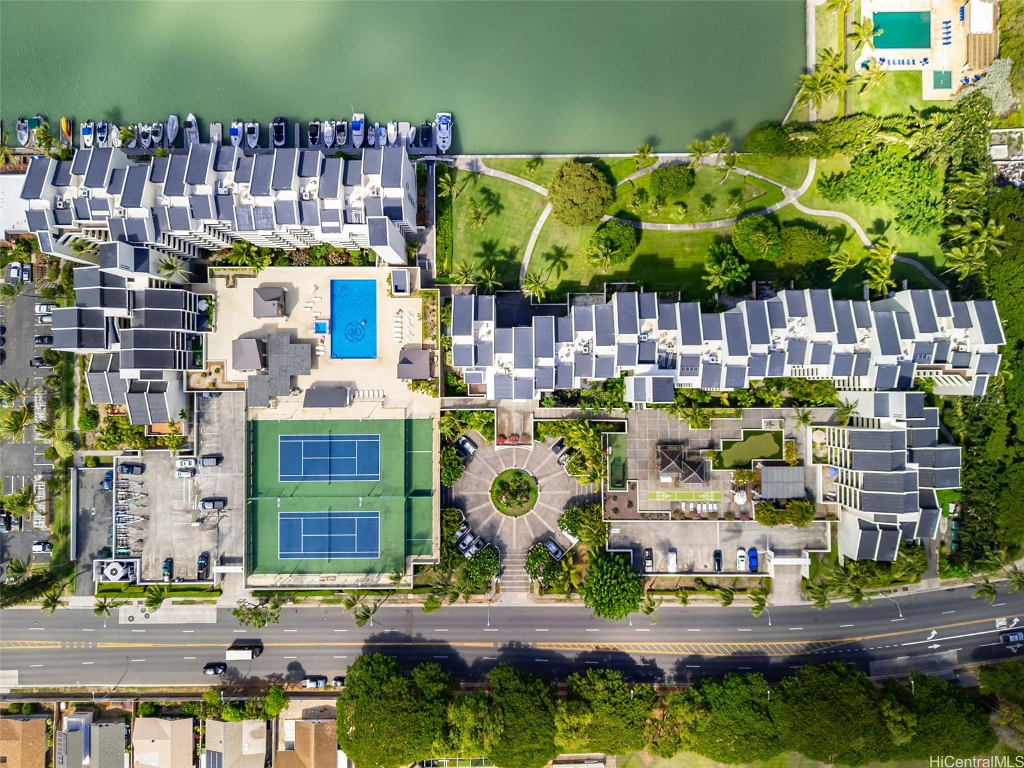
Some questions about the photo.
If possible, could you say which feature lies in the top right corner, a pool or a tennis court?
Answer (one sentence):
The feature located in the top right corner is a pool.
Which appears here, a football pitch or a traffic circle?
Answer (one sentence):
The image shows a traffic circle.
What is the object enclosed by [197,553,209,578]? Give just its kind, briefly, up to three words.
vehicle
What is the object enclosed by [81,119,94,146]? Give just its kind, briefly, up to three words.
boat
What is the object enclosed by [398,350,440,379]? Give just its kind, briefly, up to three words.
building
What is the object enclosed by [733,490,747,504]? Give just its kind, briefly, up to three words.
umbrella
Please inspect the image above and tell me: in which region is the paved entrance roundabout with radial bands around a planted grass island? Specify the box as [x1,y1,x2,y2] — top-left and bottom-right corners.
[451,432,580,559]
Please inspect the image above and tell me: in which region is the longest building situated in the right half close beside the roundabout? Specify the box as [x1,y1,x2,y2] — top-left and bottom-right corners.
[450,288,1008,410]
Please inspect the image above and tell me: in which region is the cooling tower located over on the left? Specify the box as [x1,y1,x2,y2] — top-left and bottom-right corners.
[101,556,132,585]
